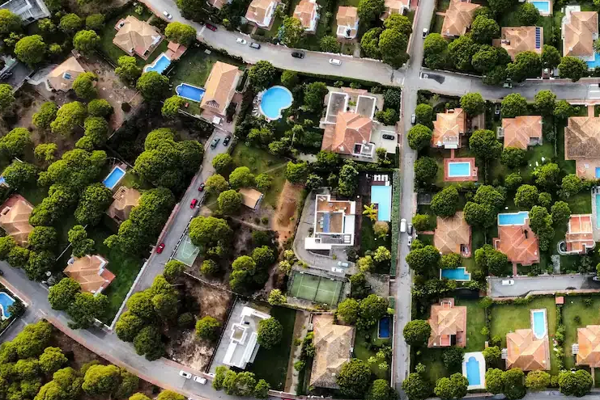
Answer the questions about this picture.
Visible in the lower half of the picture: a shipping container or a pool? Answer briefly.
pool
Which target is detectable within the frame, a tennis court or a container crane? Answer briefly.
tennis court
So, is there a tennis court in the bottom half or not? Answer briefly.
Yes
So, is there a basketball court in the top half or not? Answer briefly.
No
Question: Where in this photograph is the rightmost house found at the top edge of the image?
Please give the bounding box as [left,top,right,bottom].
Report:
[561,3,598,63]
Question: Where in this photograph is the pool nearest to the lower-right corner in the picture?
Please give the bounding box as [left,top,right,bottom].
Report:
[531,308,549,331]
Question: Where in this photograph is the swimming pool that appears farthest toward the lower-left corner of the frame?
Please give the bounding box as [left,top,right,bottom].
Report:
[0,289,16,322]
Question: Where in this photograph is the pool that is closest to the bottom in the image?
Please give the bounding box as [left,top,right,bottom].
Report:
[461,350,487,392]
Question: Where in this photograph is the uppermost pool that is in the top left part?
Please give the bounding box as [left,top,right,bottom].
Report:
[140,48,175,72]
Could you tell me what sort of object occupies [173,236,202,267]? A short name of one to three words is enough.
basketball court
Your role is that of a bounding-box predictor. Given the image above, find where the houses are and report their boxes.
[558,215,595,255]
[109,184,135,222]
[304,194,359,250]
[493,24,543,60]
[238,191,262,208]
[244,0,286,33]
[307,312,359,392]
[501,324,550,372]
[336,5,360,40]
[496,117,542,152]
[43,57,91,99]
[384,0,419,17]
[114,15,166,63]
[564,119,600,160]
[573,323,600,366]
[561,3,598,63]
[291,0,326,38]
[220,302,277,372]
[433,108,467,150]
[0,192,32,248]
[198,61,243,126]
[493,228,539,266]
[438,0,485,41]
[430,298,467,343]
[323,91,380,166]
[434,210,472,256]
[67,255,121,293]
